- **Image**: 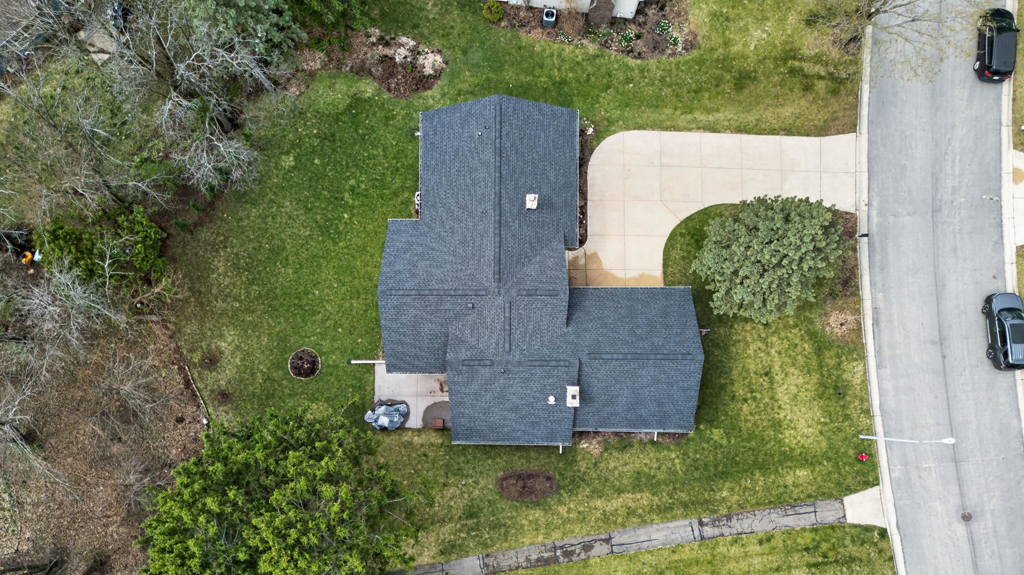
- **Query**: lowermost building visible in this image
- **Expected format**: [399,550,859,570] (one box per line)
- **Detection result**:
[379,92,702,452]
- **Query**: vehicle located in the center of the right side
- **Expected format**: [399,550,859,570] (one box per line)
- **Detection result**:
[981,292,1024,372]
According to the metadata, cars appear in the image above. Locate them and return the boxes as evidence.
[969,9,1018,87]
[981,292,1024,372]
